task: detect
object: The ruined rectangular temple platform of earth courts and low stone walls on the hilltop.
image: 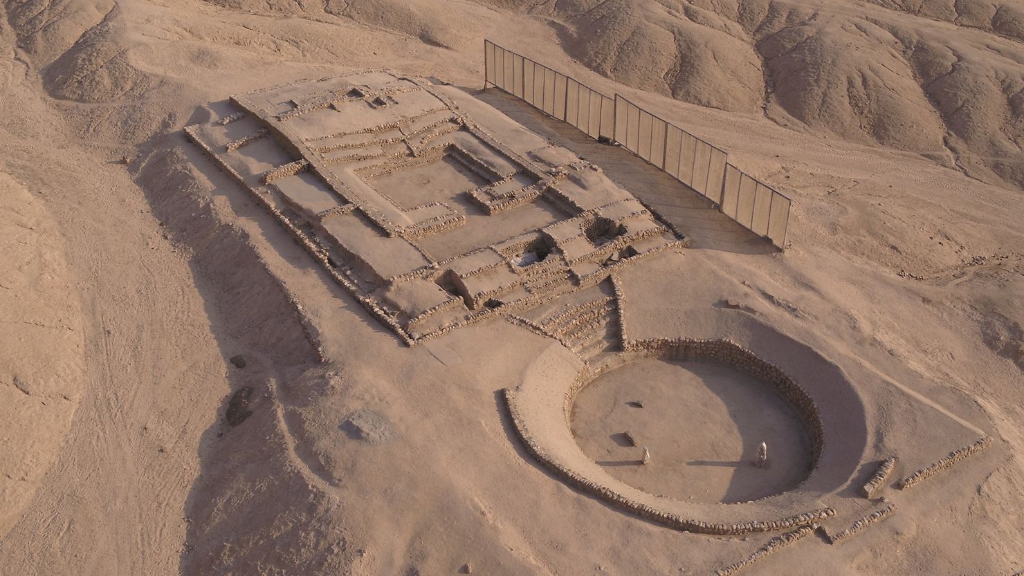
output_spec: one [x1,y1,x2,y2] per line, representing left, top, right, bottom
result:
[183,70,690,352]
